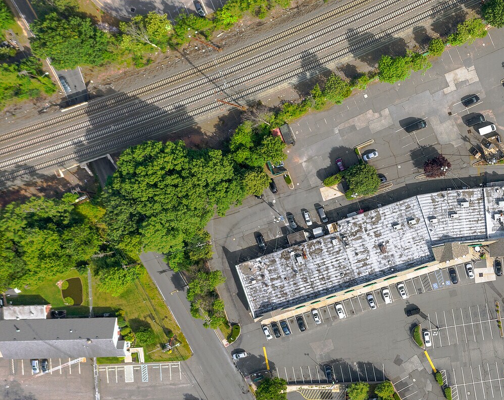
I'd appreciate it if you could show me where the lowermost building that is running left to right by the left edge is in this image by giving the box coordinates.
[0,317,133,358]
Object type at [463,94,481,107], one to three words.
vehicle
